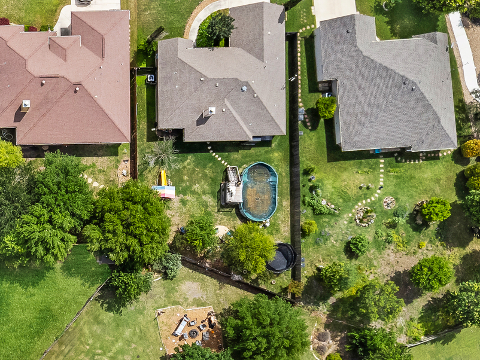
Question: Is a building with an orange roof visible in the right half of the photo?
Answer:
No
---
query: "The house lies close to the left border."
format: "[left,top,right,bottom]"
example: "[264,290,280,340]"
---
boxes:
[0,10,130,146]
